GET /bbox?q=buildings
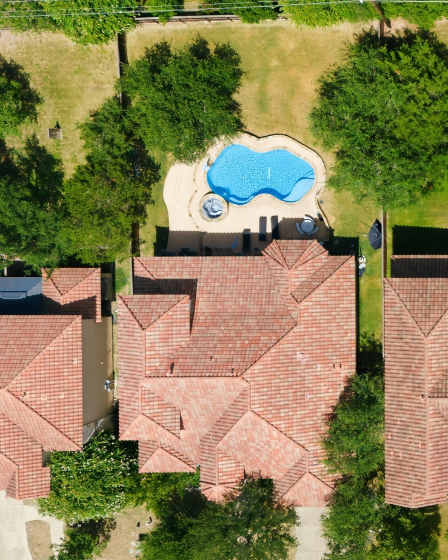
[383,254,448,508]
[116,239,357,508]
[0,267,114,500]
